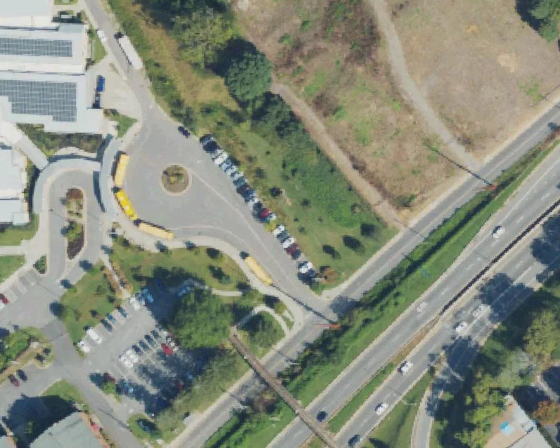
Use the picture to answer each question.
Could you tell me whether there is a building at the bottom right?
Yes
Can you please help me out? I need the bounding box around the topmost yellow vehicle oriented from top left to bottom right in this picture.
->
[114,189,136,220]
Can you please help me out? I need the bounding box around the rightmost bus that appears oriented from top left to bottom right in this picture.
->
[245,256,273,285]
